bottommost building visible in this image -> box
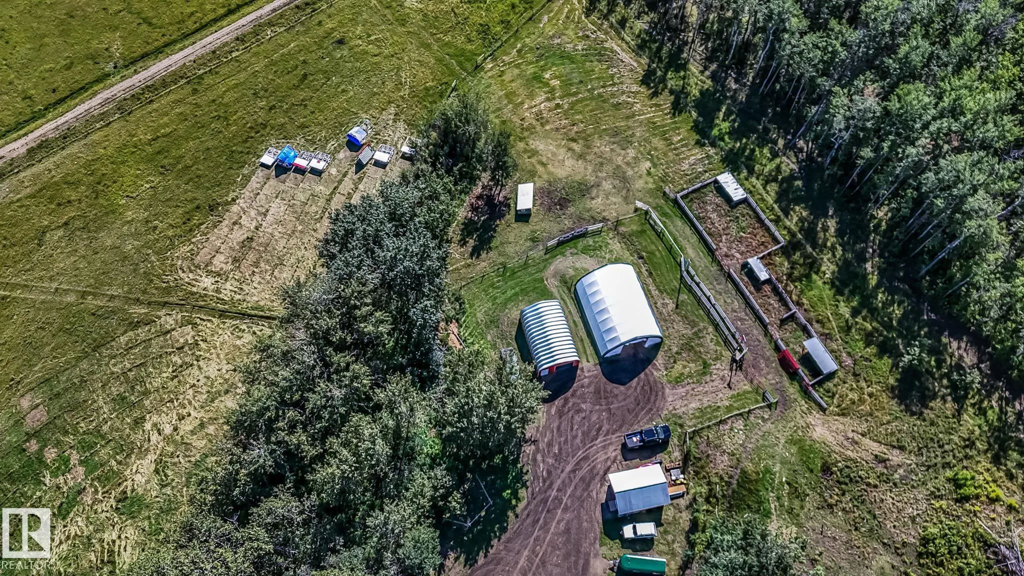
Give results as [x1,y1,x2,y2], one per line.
[604,463,671,516]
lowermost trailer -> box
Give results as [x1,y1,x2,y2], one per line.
[606,554,671,576]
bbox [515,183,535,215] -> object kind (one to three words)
shed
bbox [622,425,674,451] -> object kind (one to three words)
truck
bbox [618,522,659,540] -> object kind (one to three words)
car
